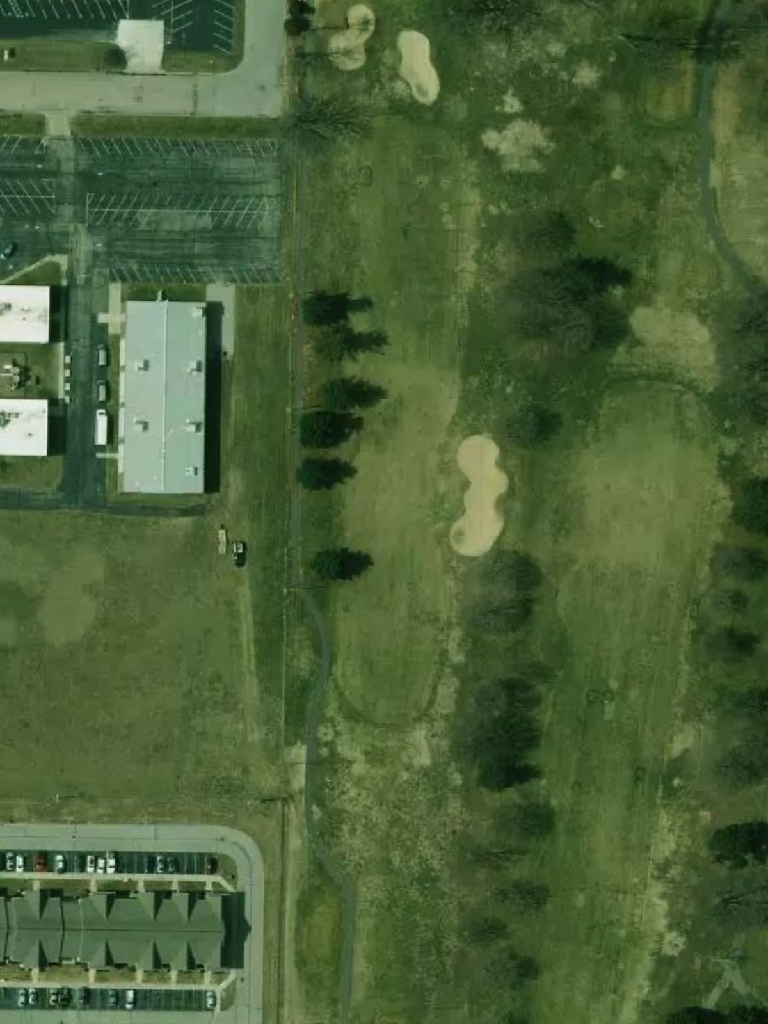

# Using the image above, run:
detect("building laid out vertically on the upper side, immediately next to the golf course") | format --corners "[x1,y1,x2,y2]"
[119,289,206,494]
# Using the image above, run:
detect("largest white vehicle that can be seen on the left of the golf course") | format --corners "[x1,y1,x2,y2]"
[95,409,107,445]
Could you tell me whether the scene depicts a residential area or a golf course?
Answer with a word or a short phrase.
golf course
